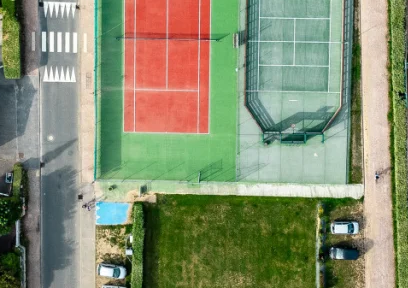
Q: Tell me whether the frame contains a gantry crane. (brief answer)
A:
No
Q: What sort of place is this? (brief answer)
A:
sports ground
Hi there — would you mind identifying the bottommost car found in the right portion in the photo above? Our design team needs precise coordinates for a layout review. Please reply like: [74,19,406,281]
[329,244,360,261]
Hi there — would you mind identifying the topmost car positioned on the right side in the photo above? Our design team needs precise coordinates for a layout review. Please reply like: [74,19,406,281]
[330,218,359,235]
